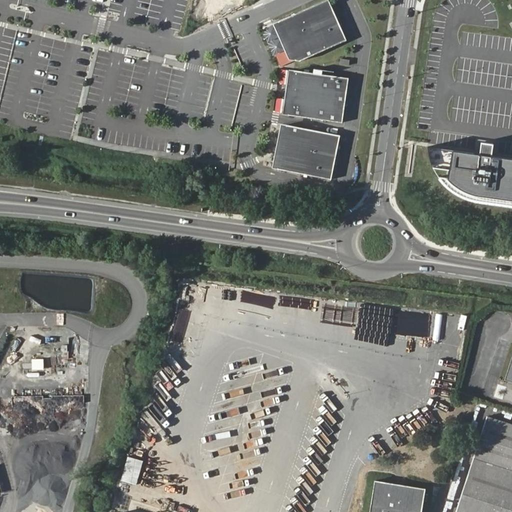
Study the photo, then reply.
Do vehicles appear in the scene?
Yes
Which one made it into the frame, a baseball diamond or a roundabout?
roundabout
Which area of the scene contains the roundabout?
right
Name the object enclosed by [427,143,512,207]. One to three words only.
building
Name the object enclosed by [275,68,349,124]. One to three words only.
building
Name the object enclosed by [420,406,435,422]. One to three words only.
vehicle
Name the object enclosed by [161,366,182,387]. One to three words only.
truck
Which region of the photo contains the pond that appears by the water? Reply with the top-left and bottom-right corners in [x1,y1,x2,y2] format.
[20,272,94,314]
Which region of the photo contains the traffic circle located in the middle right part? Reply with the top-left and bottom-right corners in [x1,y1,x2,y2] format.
[339,206,413,280]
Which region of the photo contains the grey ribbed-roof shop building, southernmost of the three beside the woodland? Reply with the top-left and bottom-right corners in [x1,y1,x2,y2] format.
[272,124,340,180]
